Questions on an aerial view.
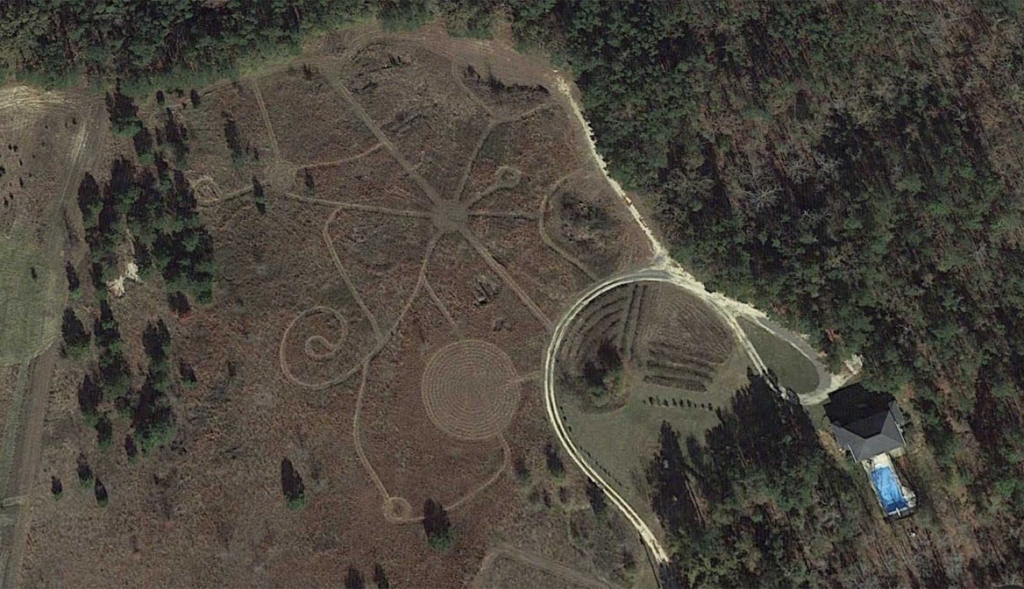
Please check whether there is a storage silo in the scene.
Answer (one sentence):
No, there's no storage silo here.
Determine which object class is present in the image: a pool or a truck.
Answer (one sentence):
The image shows a pool.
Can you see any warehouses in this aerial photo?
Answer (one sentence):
No, the picture doesn't show any warehouse.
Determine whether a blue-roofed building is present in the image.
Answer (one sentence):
No, the picture doesn't show any blue-roofed building.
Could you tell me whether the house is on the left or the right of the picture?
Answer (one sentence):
The house is on the right side of the image.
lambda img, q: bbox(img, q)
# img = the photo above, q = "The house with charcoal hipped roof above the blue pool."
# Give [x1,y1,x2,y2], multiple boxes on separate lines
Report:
[830,399,909,466]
